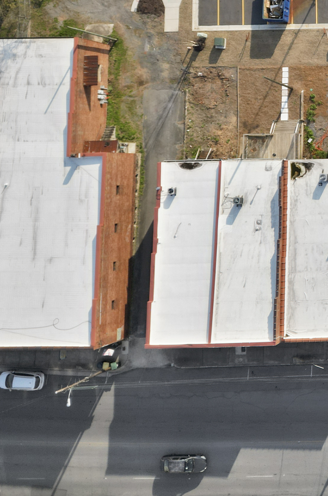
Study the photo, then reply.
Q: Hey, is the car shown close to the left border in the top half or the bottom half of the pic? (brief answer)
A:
bottom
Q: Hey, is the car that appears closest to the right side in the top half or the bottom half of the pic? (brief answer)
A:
bottom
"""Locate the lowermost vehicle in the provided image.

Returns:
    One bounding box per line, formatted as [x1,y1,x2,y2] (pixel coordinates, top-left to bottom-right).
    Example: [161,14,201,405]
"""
[161,451,209,475]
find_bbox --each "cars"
[161,451,209,475]
[0,369,47,391]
